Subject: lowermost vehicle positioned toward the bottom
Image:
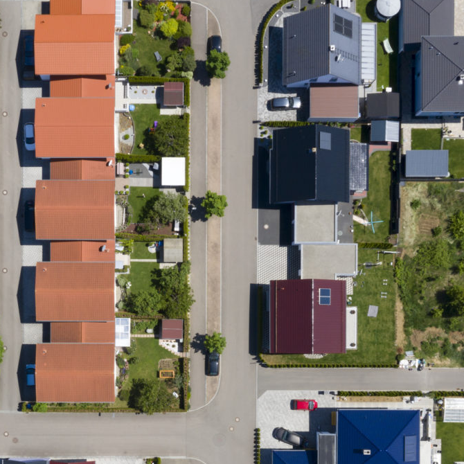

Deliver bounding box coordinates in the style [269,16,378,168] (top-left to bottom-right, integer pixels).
[275,426,304,446]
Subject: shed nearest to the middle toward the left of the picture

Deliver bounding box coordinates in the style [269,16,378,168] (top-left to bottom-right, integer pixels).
[163,239,183,263]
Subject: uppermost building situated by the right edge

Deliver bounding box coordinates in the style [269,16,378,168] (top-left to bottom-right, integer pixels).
[401,0,454,54]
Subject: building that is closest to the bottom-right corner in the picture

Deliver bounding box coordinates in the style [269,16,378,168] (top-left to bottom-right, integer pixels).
[333,410,421,464]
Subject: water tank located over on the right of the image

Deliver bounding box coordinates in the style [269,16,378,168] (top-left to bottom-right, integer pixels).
[372,0,400,23]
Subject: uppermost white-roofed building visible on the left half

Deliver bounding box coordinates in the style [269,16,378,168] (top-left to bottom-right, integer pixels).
[162,158,186,187]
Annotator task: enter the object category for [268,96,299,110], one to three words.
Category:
car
